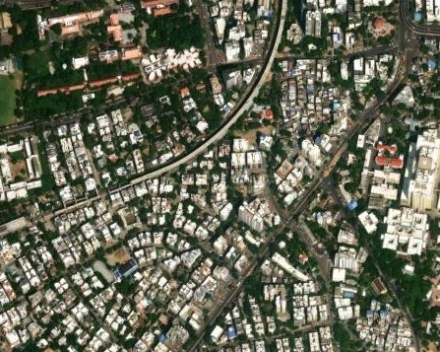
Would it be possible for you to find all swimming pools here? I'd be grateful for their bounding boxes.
[335,284,357,297]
